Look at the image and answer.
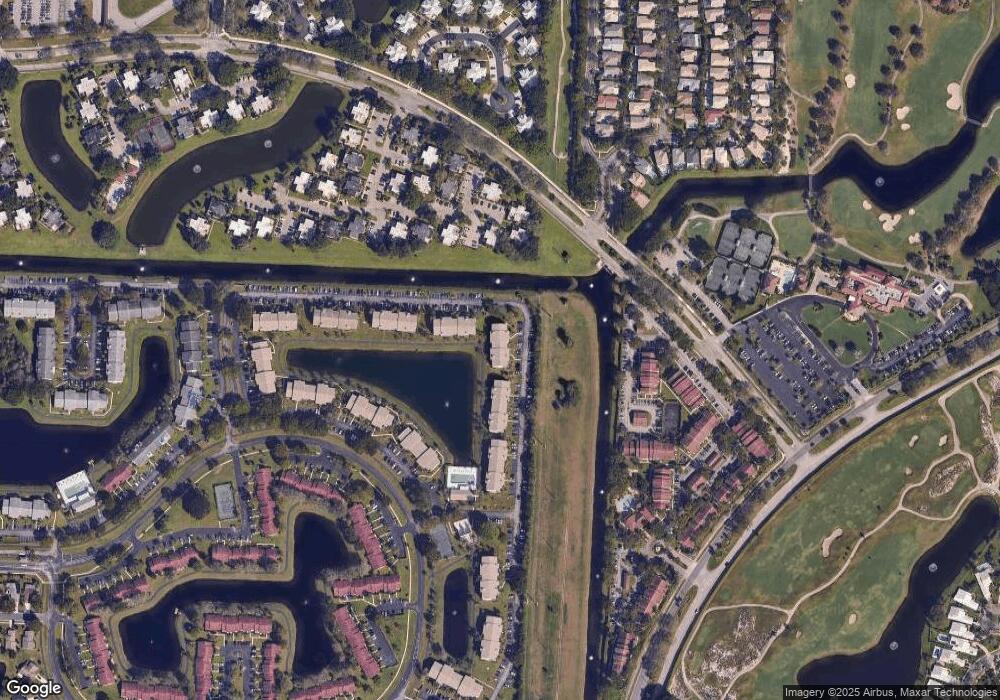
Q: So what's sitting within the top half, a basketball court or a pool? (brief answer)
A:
pool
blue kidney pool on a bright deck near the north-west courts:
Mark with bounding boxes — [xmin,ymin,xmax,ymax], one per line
[108,163,137,206]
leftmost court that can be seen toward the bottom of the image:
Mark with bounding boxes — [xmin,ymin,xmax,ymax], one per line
[215,483,235,519]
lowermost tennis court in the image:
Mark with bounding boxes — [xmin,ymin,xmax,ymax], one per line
[431,523,454,557]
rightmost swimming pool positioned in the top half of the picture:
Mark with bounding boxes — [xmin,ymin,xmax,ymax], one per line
[771,261,796,294]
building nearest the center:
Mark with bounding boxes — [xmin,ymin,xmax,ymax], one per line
[489,324,510,367]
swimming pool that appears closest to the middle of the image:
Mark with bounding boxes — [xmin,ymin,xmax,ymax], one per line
[447,467,477,489]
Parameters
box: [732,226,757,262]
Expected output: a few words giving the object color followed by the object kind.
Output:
gray tennis court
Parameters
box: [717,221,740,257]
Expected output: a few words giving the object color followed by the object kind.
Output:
gray tennis court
